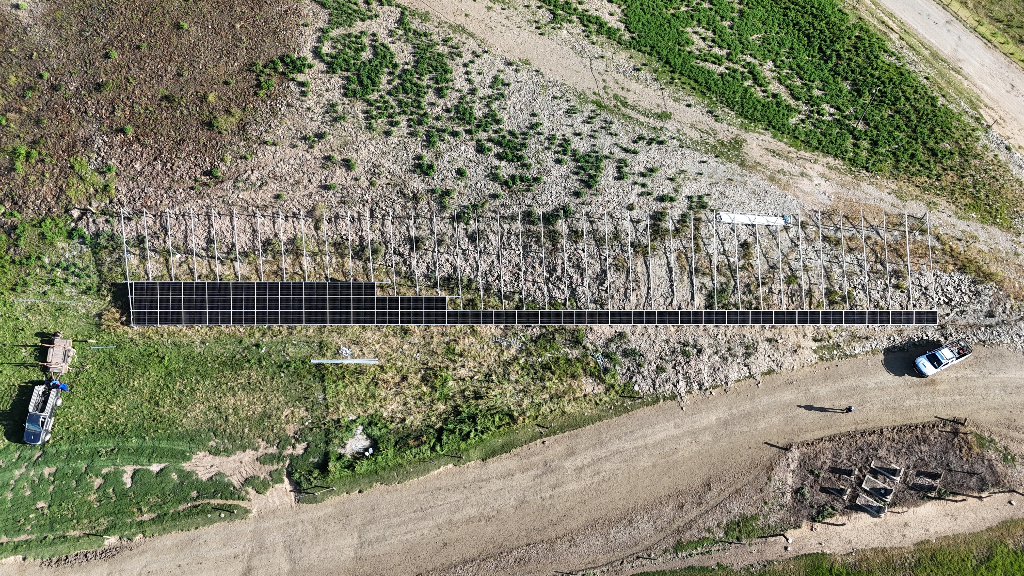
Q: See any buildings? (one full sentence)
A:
No, I can't see a single building in this photo.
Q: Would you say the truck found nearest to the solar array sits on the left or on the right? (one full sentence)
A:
The truck found nearest to the solar array is on the right side of the image.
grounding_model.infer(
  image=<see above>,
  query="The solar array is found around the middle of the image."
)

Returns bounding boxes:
[121,208,938,328]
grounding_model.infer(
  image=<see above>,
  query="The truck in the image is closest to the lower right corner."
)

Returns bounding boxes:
[911,337,975,380]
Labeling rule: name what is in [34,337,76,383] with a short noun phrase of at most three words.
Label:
trailer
